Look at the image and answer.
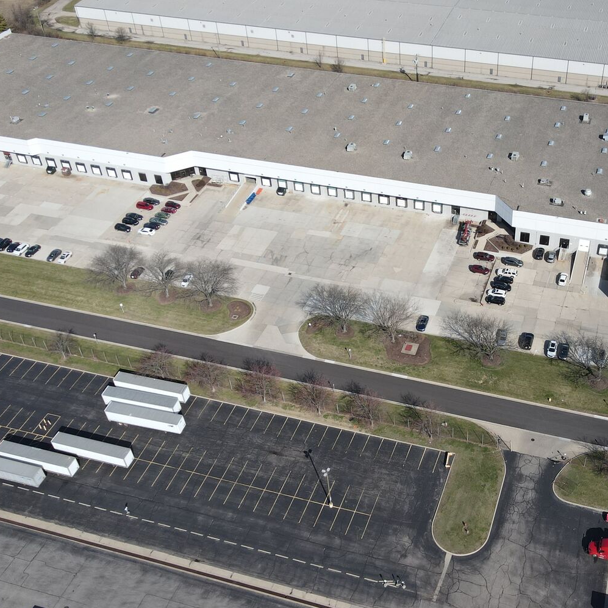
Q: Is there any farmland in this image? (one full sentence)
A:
No, the picture contains no farmland.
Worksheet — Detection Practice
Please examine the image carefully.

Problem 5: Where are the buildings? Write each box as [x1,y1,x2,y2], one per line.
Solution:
[73,0,608,85]
[0,26,608,293]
